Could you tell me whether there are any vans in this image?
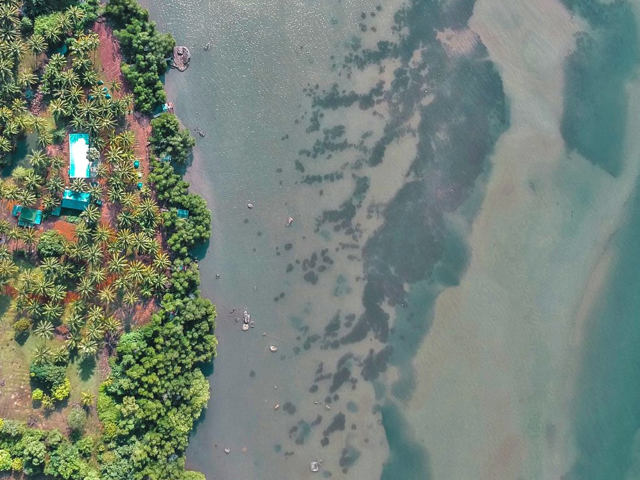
No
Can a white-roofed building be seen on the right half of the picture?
No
